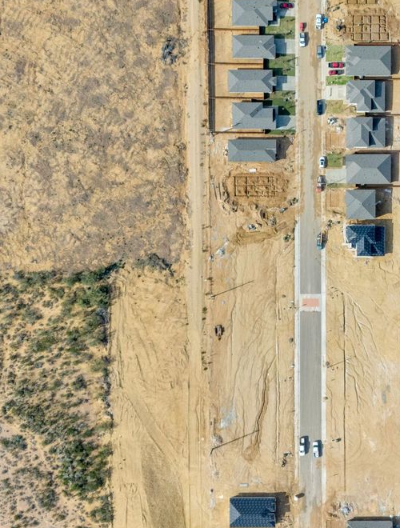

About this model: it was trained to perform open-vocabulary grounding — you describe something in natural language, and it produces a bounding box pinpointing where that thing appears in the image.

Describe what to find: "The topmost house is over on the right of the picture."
[232,0,277,26]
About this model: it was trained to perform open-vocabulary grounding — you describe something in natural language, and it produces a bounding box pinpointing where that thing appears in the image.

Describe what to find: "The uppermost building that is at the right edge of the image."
[346,46,392,76]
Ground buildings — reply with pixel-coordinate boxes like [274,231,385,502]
[346,154,392,184]
[346,117,386,147]
[346,80,386,113]
[232,0,277,26]
[229,138,278,162]
[230,494,277,528]
[345,189,375,218]
[228,69,277,93]
[346,46,392,76]
[232,34,276,59]
[232,102,278,129]
[346,519,393,528]
[341,224,386,258]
